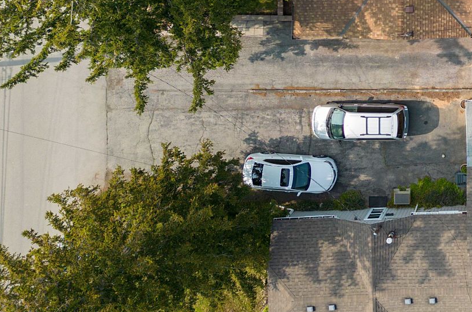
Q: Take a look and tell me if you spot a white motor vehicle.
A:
Yes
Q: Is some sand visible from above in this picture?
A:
No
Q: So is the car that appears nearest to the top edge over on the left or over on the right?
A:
right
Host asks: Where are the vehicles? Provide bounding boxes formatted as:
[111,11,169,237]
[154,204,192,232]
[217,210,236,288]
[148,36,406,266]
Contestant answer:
[314,97,412,146]
[242,150,339,198]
